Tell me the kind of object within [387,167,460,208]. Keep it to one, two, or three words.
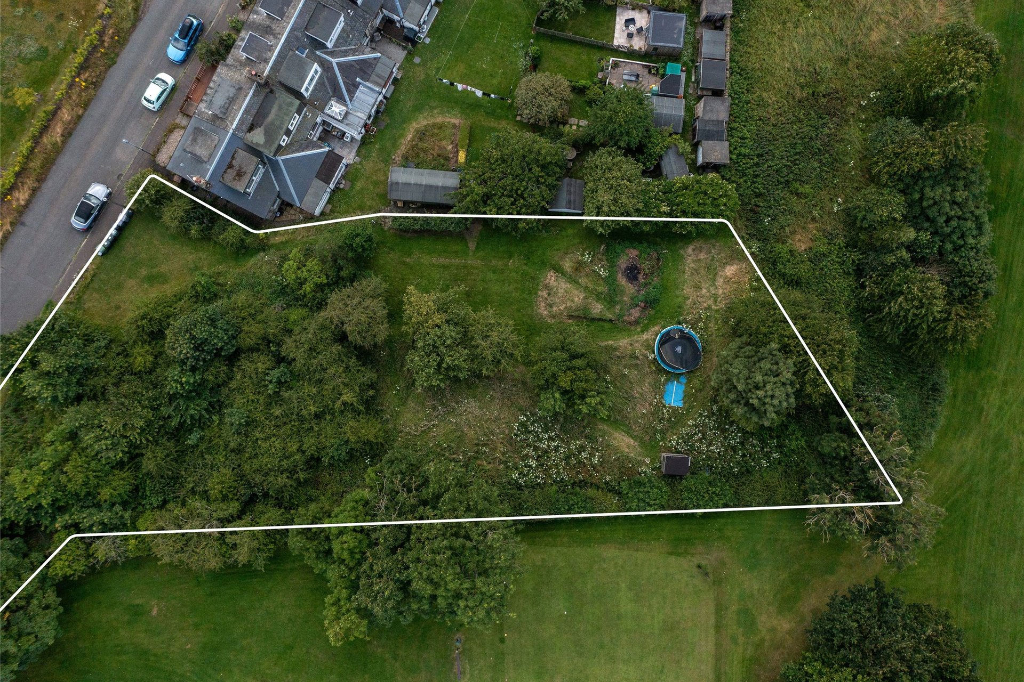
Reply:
shed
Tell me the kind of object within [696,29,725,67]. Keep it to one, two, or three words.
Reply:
shed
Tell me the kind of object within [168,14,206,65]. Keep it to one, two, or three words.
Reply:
car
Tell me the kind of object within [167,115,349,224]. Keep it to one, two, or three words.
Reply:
house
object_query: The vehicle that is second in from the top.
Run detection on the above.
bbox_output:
[142,72,177,114]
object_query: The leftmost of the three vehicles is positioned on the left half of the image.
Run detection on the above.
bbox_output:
[72,181,113,234]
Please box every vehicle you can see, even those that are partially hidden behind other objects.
[72,181,113,234]
[142,72,177,114]
[168,14,206,65]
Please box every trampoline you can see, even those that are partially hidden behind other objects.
[654,325,702,373]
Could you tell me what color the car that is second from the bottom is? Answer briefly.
white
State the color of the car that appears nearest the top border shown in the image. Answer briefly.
blue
